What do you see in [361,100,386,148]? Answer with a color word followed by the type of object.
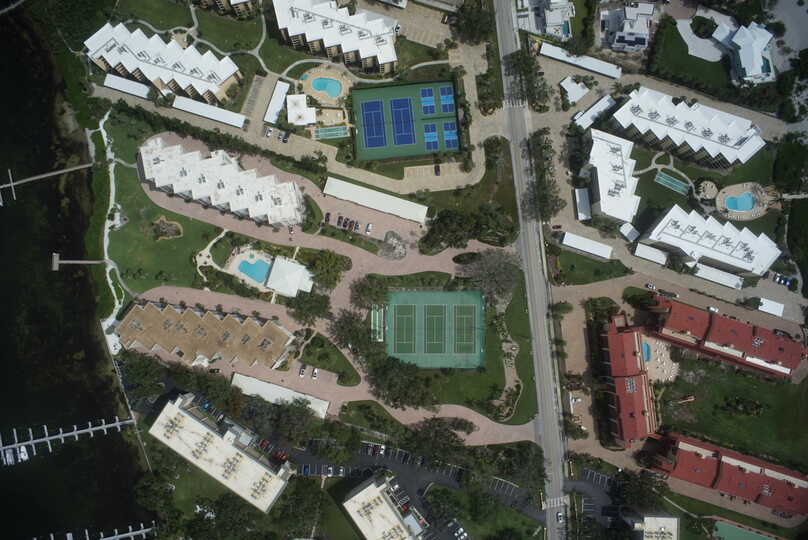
blue tennis court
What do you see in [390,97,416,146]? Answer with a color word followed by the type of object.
blue tennis court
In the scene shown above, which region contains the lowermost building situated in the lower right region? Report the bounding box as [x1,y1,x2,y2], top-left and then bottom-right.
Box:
[630,511,681,540]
